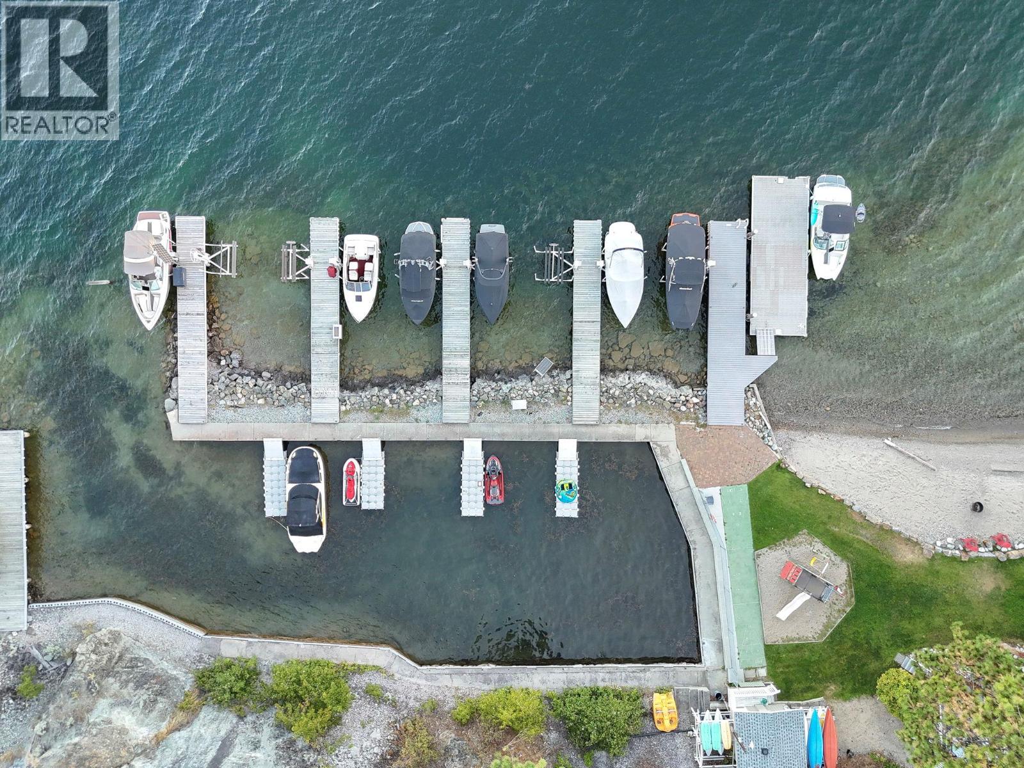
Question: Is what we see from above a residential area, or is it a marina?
marina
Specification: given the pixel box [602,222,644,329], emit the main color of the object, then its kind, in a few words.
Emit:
white boat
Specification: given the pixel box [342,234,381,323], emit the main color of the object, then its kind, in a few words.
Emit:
white boat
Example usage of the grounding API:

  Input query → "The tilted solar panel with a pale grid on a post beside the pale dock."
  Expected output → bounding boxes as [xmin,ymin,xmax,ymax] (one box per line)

[147,240,194,275]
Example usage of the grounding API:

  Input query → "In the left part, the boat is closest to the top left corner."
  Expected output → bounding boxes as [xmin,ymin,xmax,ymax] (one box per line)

[122,213,175,331]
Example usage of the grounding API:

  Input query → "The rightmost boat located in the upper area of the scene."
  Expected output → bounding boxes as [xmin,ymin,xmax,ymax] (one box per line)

[800,178,869,280]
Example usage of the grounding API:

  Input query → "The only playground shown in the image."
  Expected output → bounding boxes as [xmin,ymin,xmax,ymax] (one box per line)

[776,549,845,622]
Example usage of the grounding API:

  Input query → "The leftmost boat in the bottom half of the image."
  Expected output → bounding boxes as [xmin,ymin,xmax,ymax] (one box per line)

[286,446,329,551]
